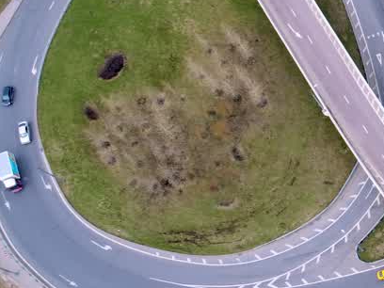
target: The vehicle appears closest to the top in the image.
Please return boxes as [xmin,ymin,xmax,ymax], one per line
[0,85,15,106]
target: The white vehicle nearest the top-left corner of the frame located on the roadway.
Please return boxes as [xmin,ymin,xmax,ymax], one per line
[16,122,32,142]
